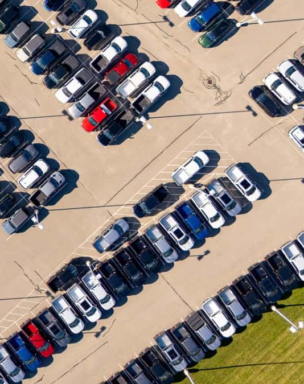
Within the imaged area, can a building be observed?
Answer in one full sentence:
No, the scene contains no building.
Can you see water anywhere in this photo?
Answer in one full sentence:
No, there's no water in this view.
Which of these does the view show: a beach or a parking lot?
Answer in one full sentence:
The area seen from above is a parking lot.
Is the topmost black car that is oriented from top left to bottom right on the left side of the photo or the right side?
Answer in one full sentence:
You can find the topmost black car that is oriented from top left to bottom right on the right side of the picture.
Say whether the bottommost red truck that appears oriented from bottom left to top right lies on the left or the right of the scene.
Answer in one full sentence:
It is on the left.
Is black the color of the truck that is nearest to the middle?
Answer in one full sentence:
Yes, the truck that is nearest to the middle is indeed black.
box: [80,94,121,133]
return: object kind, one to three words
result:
truck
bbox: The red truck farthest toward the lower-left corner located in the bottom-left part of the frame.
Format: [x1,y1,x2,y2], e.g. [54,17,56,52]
[19,316,57,359]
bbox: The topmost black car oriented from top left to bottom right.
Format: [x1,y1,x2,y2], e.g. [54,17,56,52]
[245,83,283,119]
